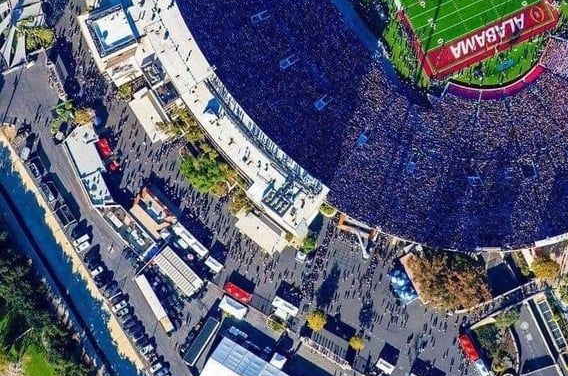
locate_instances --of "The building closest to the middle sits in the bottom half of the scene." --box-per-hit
[235,209,285,255]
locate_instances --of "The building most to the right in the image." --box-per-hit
[534,292,568,357]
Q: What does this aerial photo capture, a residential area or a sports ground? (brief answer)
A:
sports ground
